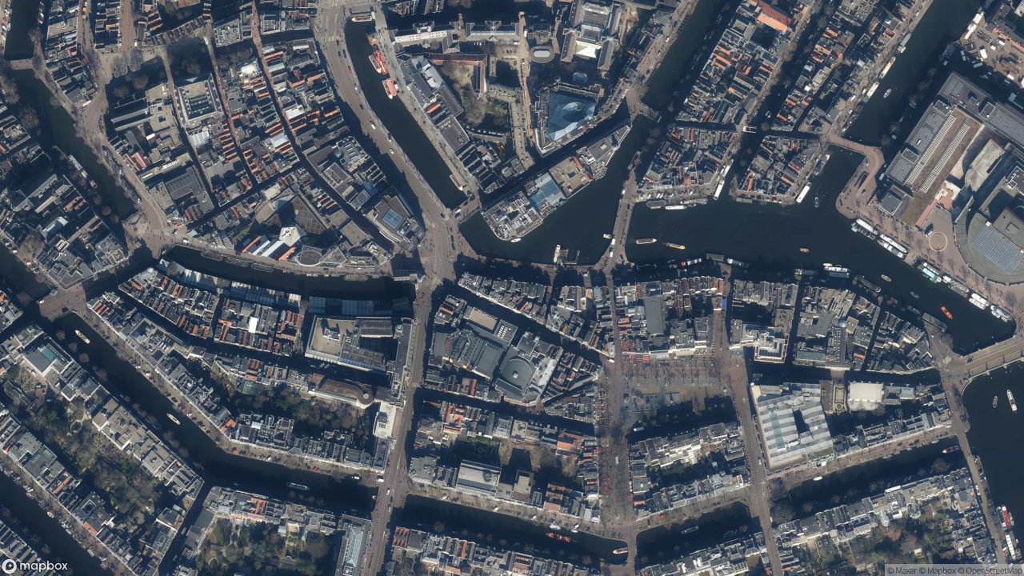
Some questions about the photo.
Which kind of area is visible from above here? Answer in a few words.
residential area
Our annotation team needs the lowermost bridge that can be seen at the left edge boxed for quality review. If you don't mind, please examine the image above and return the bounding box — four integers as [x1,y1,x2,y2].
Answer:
[35,292,74,323]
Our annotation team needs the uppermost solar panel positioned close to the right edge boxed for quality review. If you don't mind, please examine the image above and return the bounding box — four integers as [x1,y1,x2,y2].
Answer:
[973,226,1024,273]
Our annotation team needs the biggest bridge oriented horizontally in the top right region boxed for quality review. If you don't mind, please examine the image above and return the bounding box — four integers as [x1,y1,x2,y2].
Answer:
[827,133,883,159]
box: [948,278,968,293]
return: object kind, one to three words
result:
boat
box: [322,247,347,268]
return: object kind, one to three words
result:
building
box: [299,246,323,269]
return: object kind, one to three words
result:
building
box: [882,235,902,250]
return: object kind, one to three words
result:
boat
